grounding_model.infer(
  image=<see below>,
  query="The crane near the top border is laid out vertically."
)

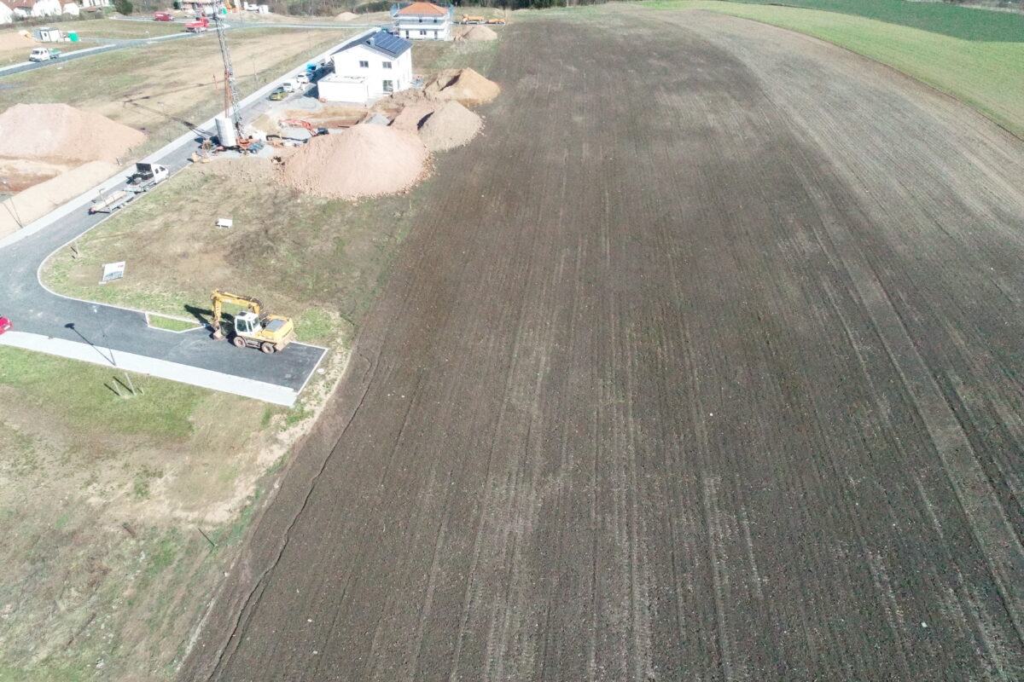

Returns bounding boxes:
[199,0,255,152]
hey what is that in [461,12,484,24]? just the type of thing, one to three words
vehicle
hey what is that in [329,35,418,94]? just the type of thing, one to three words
house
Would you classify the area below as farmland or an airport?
farmland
